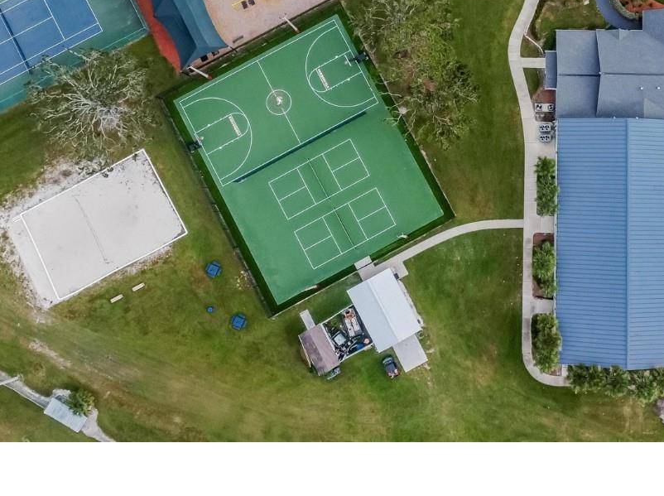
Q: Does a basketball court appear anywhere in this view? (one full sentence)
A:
Yes, you can see a basketball court in this photo.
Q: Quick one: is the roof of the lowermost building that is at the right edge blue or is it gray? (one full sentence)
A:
In this view, the roof of the lowermost building that is at the right edge is blue.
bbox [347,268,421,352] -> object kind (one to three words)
shed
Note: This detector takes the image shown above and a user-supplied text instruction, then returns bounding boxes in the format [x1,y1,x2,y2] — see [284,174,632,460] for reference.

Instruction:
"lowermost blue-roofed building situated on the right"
[558,118,664,371]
